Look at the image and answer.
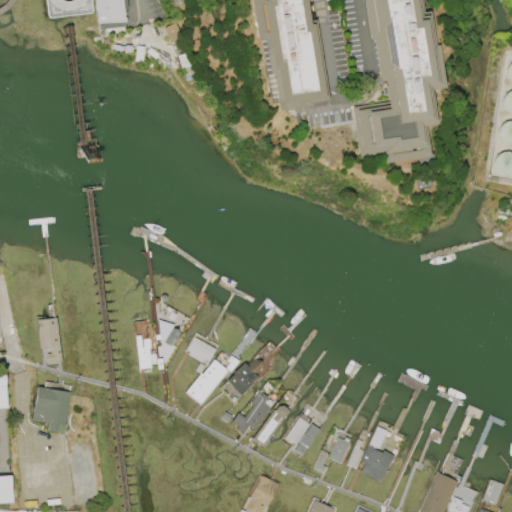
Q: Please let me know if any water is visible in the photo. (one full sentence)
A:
Yes, water shows up in the scene.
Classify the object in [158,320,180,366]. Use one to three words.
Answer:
house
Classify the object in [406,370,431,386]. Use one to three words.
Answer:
boat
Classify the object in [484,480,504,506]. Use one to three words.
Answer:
house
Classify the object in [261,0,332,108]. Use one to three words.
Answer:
building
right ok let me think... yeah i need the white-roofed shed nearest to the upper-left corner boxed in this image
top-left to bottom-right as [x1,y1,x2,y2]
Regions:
[98,0,127,29]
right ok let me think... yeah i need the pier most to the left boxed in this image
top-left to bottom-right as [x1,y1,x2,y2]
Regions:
[28,217,57,302]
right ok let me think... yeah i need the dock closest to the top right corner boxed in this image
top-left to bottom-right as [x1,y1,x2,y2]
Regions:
[420,236,498,260]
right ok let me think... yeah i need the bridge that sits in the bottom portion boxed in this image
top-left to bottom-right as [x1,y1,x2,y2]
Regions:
[82,186,136,512]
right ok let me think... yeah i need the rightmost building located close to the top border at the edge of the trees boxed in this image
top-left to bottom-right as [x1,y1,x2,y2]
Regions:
[354,0,448,167]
